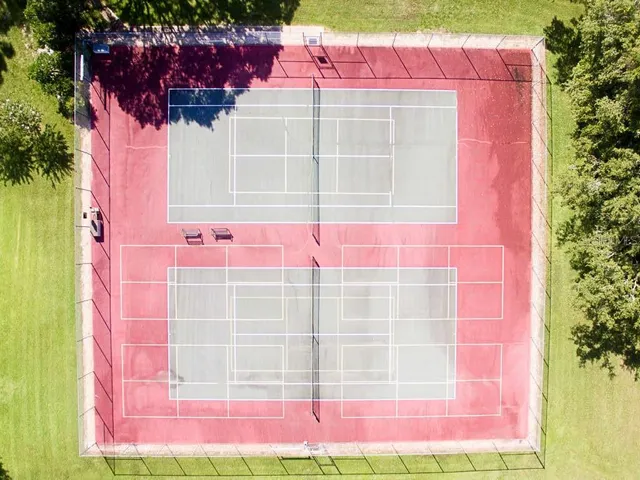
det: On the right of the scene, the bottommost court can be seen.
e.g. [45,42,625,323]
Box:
[341,344,502,417]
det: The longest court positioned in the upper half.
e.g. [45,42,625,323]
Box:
[168,89,457,224]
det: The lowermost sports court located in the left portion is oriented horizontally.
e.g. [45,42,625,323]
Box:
[122,344,284,418]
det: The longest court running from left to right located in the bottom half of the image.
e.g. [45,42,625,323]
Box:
[169,268,456,400]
